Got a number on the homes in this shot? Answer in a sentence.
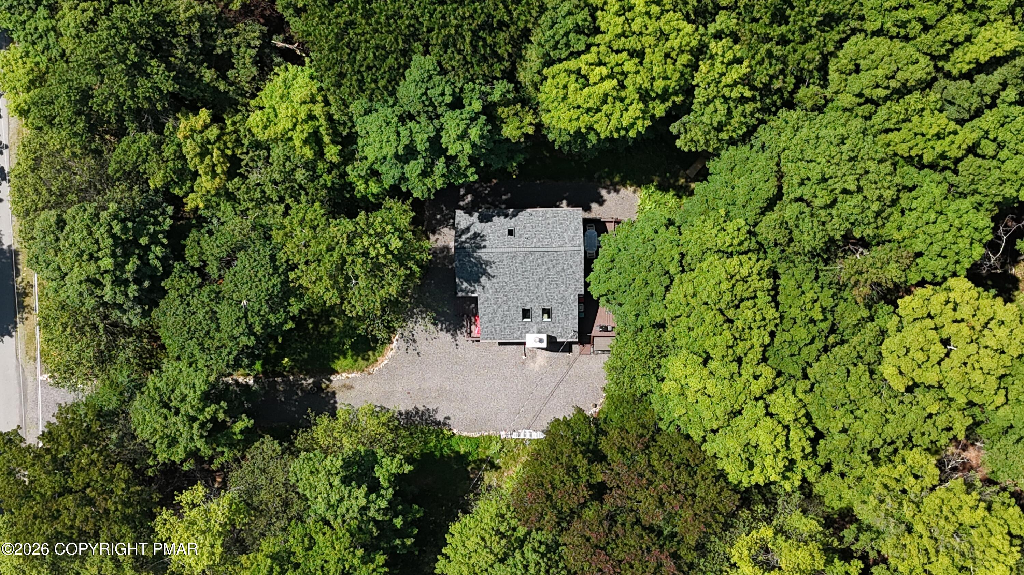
Only 1 home is visible.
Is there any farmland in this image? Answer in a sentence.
No, no farmland is visible.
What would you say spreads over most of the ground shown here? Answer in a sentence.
The largest share of the image is taken up by trees.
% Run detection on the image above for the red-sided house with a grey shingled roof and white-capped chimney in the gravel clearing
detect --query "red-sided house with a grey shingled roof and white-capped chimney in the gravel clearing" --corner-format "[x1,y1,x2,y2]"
[454,205,585,354]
